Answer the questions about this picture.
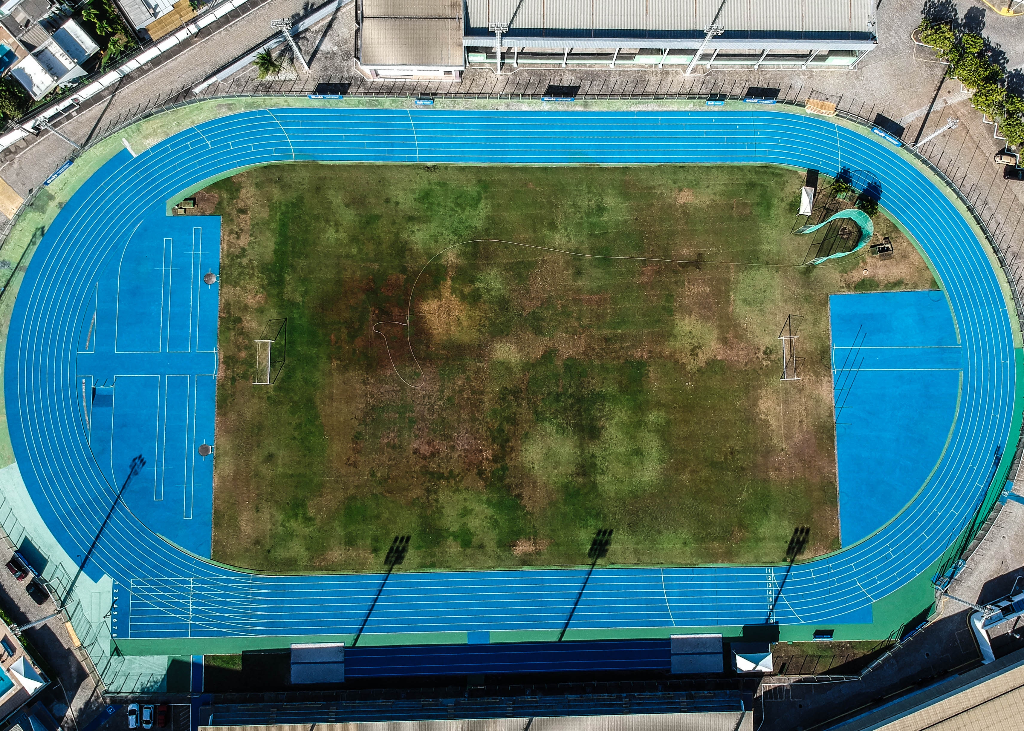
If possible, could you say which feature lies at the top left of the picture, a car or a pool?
pool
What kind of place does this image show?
sports ground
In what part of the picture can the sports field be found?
center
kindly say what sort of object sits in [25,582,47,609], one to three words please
car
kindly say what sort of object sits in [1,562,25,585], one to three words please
car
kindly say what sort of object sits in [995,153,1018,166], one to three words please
vehicle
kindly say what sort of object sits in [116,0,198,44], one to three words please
house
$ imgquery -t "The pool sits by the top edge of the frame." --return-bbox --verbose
[0,21,29,77]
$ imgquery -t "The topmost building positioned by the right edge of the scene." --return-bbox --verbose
[973,587,1024,639]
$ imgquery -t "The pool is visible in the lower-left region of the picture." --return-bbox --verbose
[0,623,48,722]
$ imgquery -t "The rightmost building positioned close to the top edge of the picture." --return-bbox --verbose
[355,0,465,80]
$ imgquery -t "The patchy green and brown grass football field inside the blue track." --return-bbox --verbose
[177,165,940,572]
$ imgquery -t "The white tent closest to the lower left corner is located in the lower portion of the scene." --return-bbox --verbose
[10,653,51,695]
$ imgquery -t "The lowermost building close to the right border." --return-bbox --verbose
[829,651,1024,731]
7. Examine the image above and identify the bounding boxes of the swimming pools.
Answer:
[0,623,48,722]
[0,21,29,77]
